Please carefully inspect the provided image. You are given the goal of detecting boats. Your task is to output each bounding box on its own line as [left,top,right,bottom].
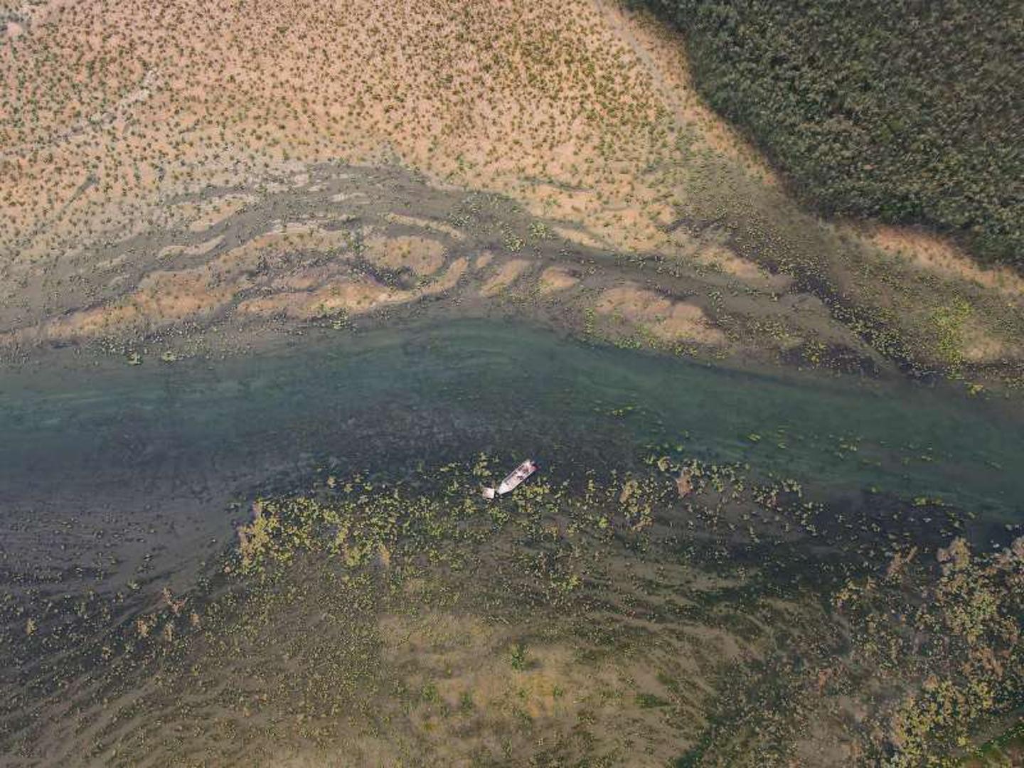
[497,461,537,496]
